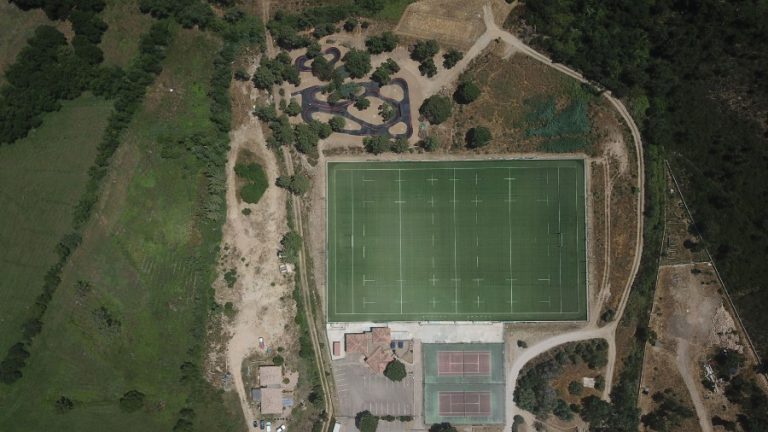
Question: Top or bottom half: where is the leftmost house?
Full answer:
The bottom half of the photo is where the leftmost house is.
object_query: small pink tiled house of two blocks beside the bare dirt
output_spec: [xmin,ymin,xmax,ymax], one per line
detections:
[253,365,294,414]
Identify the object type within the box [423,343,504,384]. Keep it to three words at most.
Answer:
tennis court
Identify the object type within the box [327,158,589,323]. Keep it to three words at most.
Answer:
sports field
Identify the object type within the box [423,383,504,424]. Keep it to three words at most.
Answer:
tennis court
